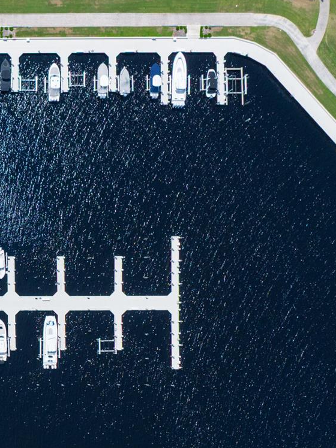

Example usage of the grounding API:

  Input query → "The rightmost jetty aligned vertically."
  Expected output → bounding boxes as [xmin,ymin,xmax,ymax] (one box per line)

[211,54,228,105]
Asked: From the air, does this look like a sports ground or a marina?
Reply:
marina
